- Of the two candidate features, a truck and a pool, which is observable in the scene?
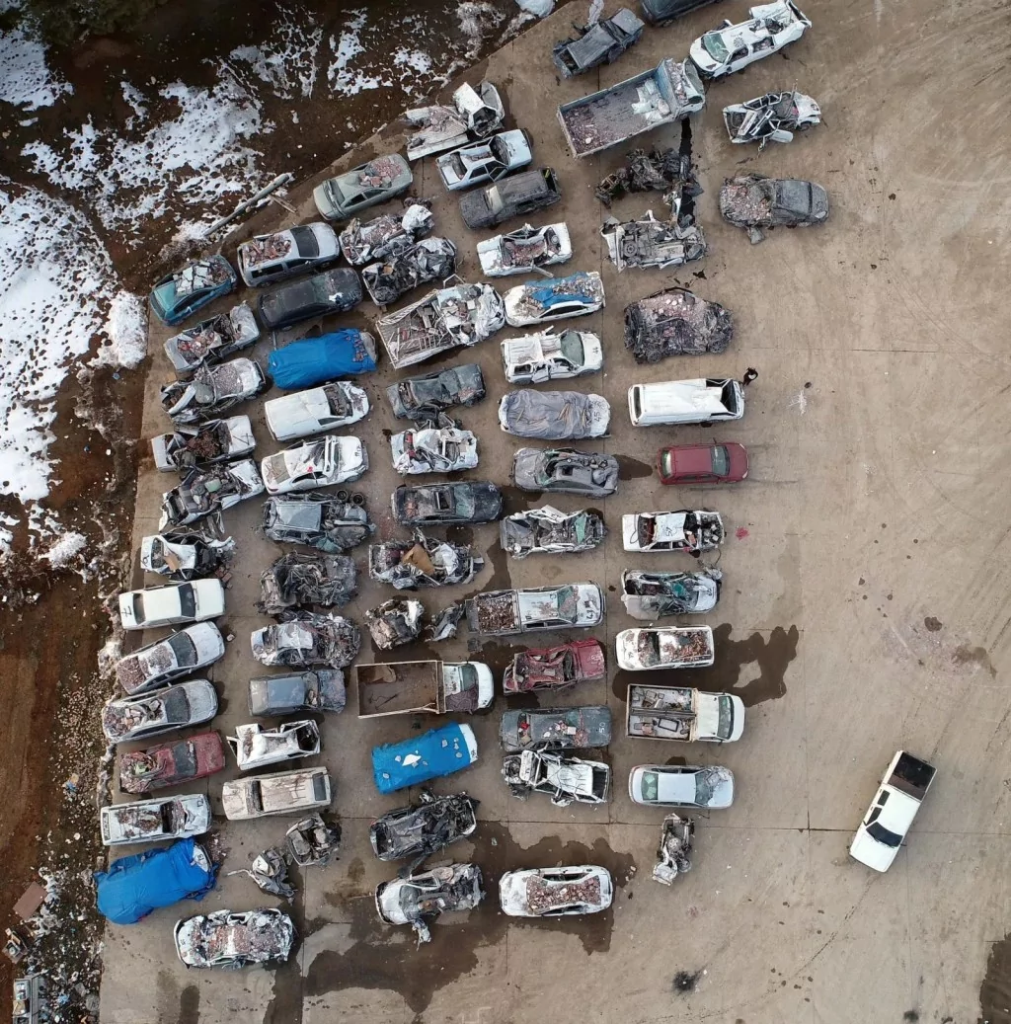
truck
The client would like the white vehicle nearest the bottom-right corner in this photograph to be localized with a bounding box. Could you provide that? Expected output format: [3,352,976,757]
[848,749,939,872]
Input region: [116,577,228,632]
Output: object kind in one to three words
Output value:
car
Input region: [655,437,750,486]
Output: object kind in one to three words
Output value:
car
